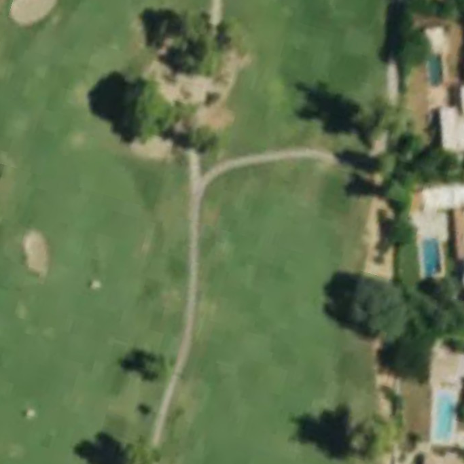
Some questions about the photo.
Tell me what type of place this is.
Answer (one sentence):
This image shows a golf course.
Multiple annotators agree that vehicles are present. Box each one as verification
[92,280,98,289]
[28,408,33,416]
